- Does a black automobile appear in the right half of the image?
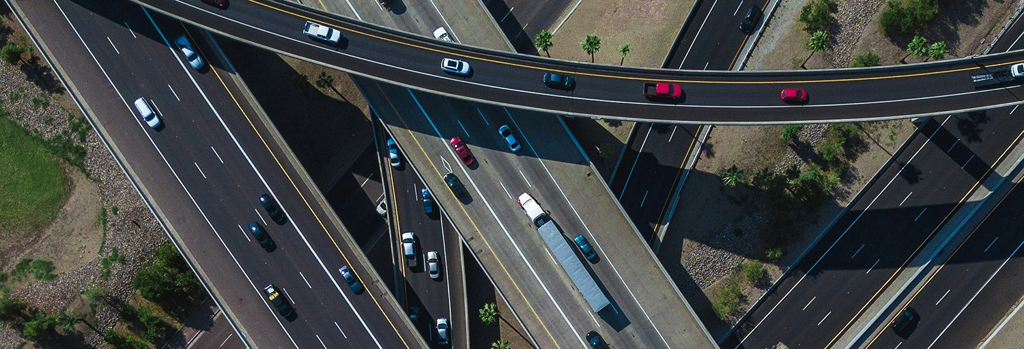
Yes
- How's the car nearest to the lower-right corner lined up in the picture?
diagonally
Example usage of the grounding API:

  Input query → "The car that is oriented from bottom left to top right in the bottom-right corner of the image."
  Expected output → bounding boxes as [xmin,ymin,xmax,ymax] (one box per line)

[888,302,915,331]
